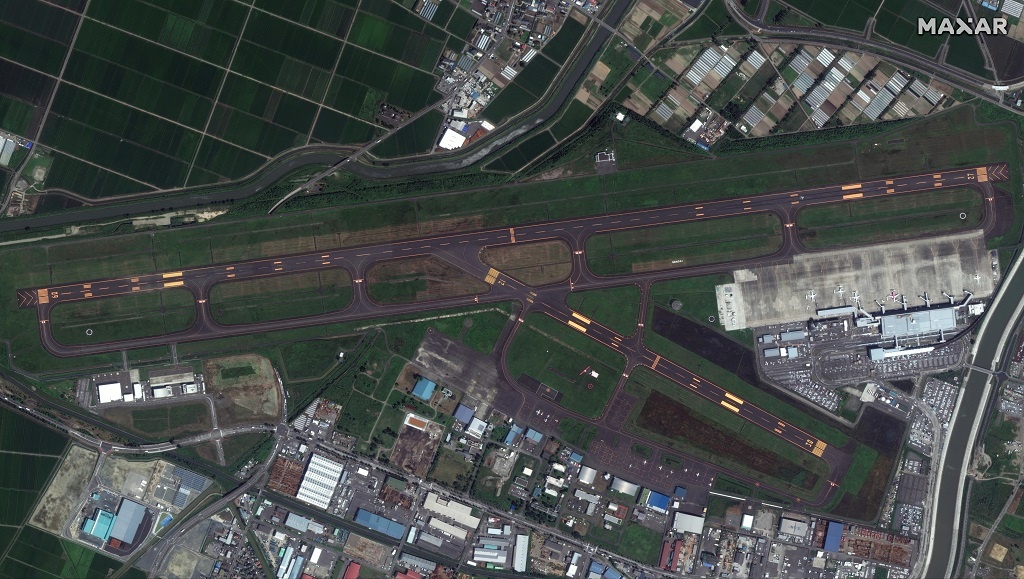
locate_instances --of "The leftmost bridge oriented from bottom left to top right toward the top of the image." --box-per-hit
[268,134,385,213]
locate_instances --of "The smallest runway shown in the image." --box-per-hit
[483,267,828,457]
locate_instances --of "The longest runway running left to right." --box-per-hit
[17,165,1008,306]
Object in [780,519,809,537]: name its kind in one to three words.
building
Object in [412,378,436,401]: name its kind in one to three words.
hangar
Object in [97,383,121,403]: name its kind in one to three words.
hangar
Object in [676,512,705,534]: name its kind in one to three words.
building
